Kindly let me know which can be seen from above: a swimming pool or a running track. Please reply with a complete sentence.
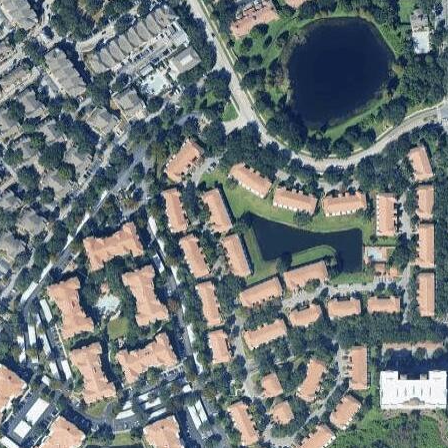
Visible in the photo is a swimming pool.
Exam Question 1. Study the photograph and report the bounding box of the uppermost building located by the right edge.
[410,11,431,32]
